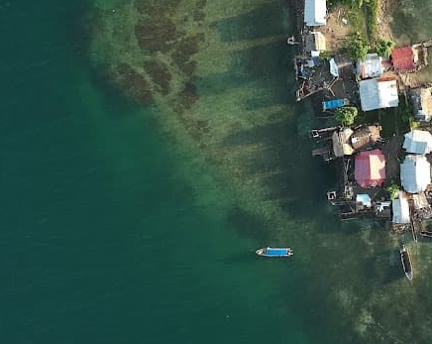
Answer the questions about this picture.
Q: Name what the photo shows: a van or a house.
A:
house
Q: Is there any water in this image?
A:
Yes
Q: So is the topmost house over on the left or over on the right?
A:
right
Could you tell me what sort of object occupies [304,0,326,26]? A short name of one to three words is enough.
house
